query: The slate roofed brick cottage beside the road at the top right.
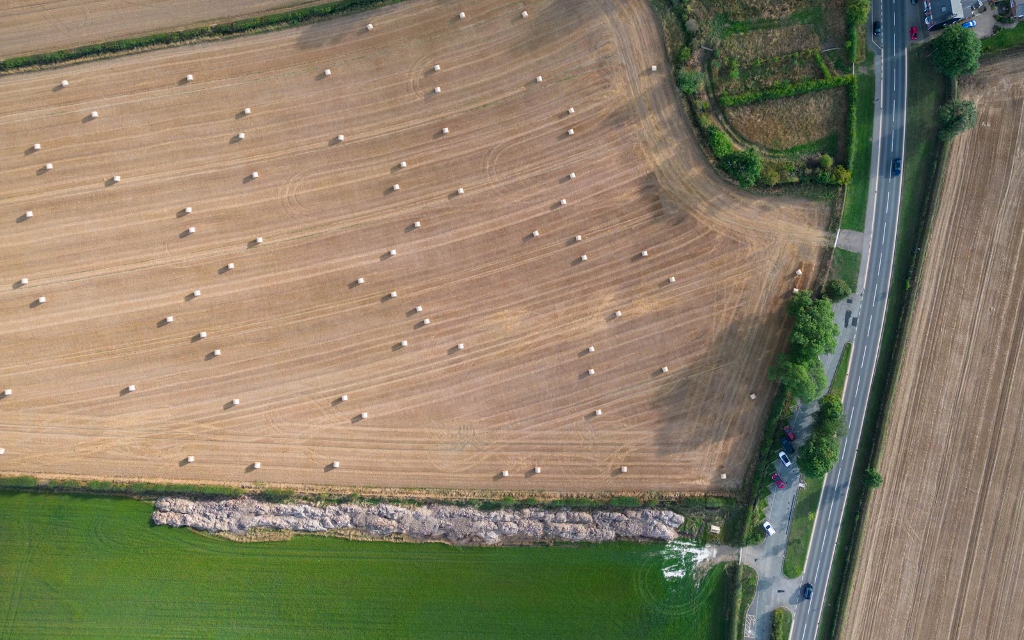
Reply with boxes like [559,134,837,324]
[919,0,977,31]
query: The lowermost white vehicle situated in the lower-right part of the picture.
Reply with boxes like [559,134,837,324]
[762,521,776,535]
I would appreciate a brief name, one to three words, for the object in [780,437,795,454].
car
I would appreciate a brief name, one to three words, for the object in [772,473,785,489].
vehicle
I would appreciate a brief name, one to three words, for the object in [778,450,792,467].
car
